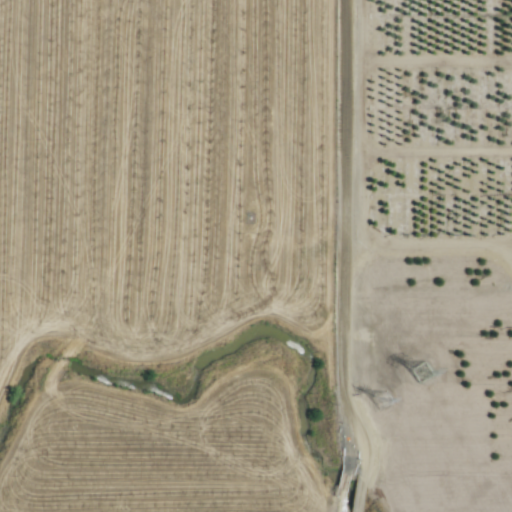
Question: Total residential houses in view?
0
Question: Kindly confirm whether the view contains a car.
No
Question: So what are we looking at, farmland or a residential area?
farmland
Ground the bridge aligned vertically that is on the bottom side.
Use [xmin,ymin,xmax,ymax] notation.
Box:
[336,446,360,491]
